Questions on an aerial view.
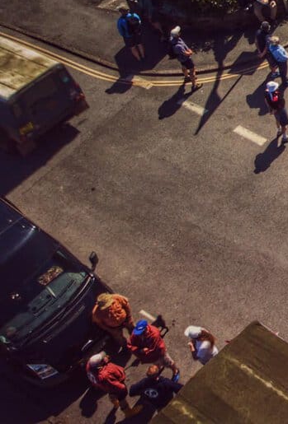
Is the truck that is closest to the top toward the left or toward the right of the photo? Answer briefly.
left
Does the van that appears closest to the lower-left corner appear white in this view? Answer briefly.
No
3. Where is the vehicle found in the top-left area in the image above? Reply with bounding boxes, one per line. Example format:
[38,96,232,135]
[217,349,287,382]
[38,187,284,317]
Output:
[0,35,100,175]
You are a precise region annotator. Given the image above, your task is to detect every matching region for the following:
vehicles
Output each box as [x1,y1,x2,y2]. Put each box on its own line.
[0,245,114,424]
[0,35,100,175]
